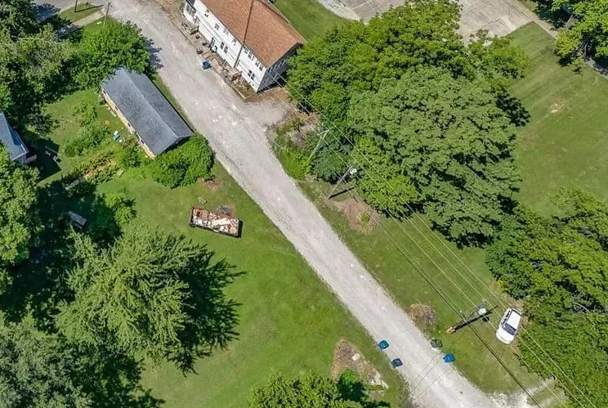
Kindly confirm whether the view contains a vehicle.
Yes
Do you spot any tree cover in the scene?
Yes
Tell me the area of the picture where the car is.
bottom right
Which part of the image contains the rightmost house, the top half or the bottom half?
top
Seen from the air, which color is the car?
white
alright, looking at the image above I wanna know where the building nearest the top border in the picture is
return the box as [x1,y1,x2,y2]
[180,0,308,92]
